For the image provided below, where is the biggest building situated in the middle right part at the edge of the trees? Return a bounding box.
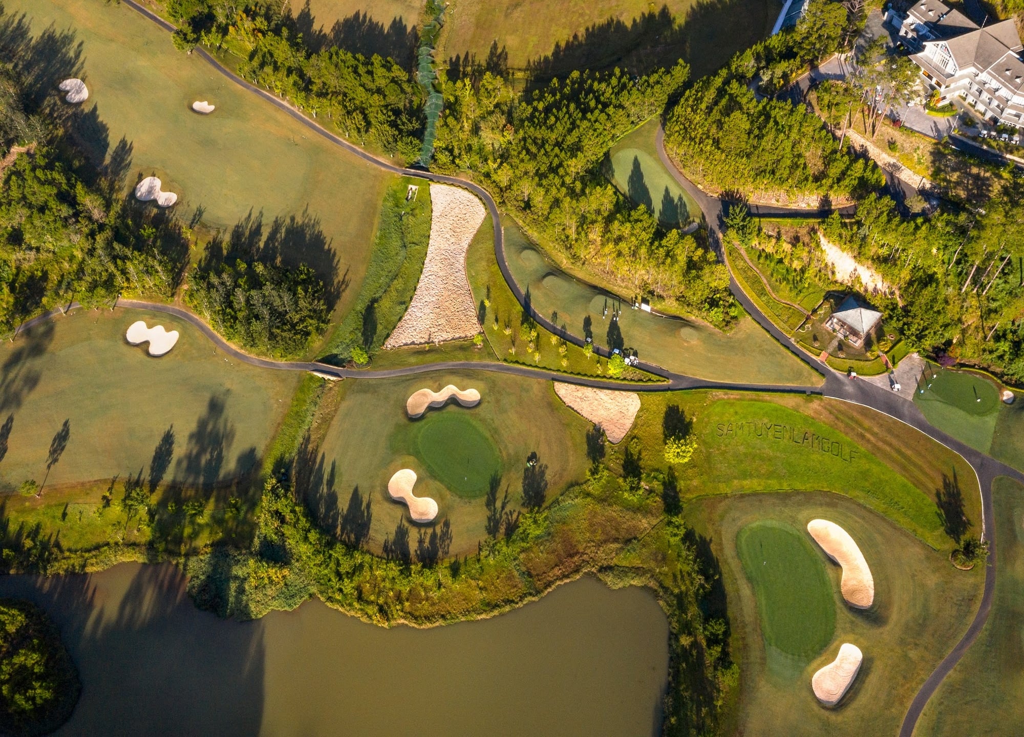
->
[822,296,883,350]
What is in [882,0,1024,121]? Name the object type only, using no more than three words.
building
